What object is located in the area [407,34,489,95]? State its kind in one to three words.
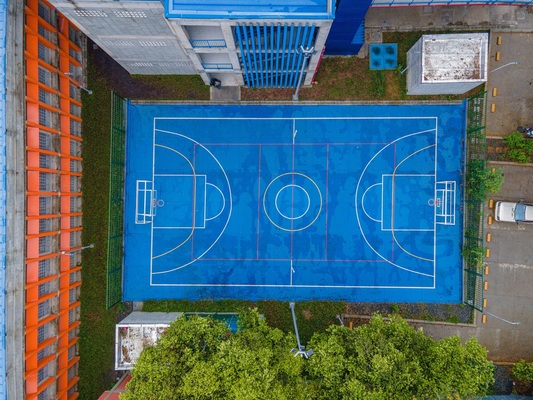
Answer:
shed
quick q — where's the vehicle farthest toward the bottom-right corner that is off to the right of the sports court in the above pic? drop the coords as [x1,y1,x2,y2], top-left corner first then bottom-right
[494,199,533,224]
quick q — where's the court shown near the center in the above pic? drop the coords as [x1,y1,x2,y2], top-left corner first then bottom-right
[122,97,465,304]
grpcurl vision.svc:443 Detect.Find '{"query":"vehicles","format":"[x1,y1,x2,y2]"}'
[494,199,533,224]
[515,122,533,133]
